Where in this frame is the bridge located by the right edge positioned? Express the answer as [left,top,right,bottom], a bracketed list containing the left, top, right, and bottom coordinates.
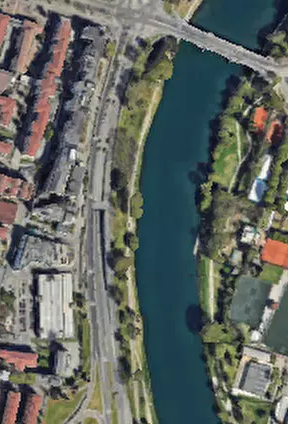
[179,21,288,86]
